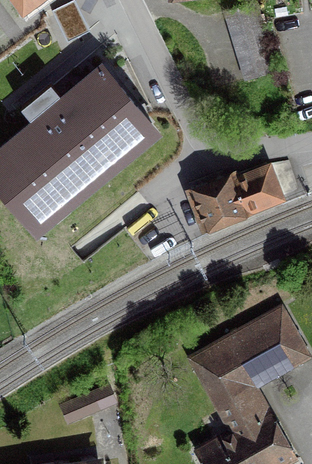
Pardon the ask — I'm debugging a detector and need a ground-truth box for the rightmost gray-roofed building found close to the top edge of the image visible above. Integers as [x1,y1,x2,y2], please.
[224,12,268,82]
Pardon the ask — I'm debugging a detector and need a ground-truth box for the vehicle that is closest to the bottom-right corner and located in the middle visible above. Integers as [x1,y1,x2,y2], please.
[149,235,178,259]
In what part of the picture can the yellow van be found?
center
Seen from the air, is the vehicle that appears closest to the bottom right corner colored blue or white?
white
